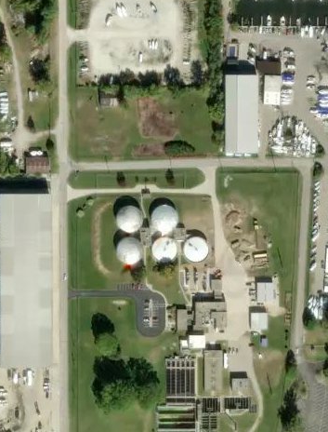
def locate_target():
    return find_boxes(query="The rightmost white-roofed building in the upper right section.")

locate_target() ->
[265,75,280,104]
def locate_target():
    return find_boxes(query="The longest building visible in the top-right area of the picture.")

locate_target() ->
[226,74,259,155]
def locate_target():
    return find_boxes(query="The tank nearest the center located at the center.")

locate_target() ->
[150,204,179,232]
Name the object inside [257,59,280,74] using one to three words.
building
